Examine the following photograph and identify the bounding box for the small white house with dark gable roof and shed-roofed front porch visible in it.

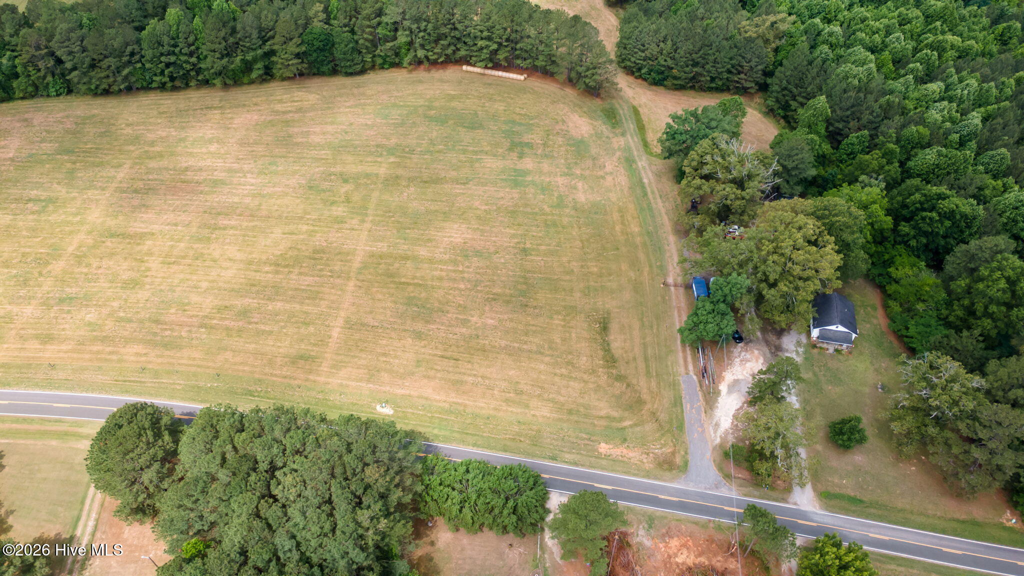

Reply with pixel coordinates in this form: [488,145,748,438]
[807,292,858,355]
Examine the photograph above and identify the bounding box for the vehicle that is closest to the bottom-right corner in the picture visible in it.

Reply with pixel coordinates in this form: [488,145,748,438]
[733,332,745,347]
